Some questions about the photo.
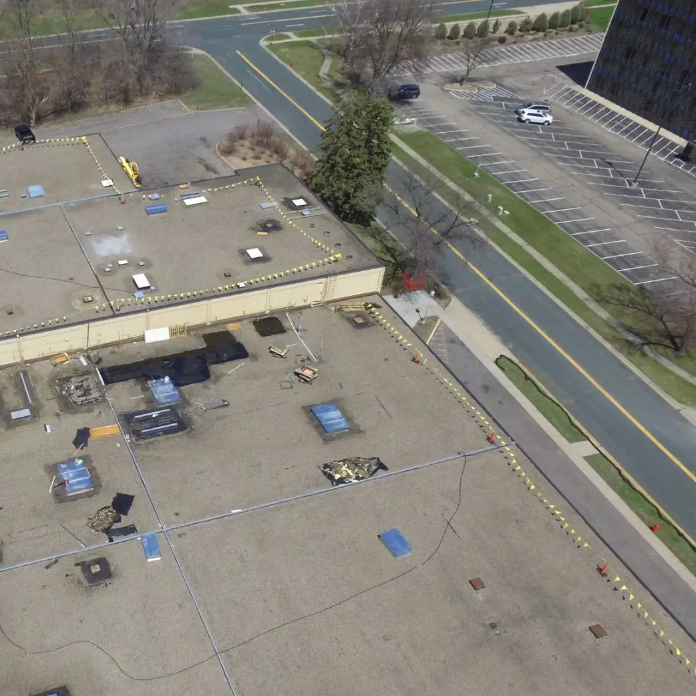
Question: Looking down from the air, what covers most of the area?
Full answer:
The scene is dominated by buildings.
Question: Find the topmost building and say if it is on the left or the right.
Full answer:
The topmost building is on the right side of the image.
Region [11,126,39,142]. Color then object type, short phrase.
black car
